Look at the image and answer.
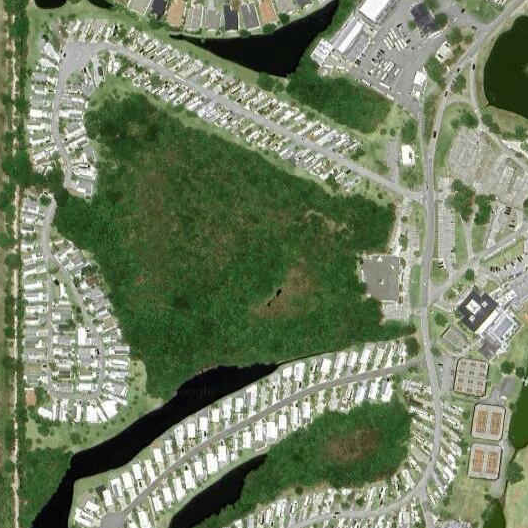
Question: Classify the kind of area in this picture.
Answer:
residential area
